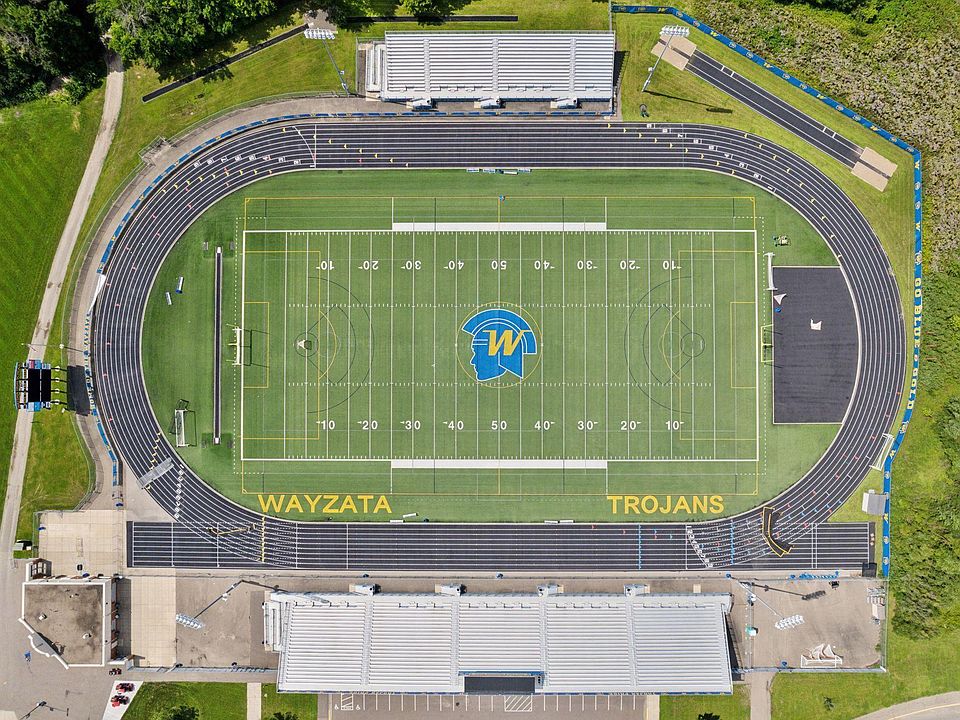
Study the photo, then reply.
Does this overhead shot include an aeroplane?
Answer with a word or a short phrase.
No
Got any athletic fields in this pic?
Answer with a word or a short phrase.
Yes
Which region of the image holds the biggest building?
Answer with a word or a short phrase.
bottom left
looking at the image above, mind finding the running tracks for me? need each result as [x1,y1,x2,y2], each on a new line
[93,120,908,572]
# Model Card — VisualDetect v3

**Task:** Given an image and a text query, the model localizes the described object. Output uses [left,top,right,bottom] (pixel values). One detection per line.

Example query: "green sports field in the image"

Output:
[142,170,838,520]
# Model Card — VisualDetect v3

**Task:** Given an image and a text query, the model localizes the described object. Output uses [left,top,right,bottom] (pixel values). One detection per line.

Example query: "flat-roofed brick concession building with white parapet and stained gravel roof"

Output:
[19,556,128,671]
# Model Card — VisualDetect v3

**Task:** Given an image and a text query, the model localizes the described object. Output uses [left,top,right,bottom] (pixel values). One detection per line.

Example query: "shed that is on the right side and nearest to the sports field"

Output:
[860,488,891,514]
